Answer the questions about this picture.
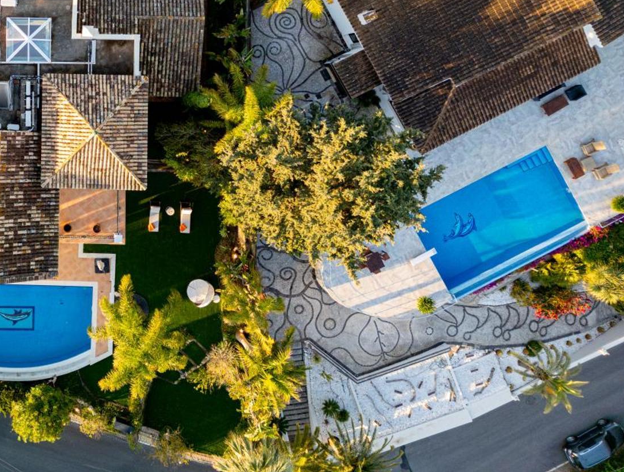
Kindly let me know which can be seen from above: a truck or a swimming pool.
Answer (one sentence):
There is a swimming pool in the scene.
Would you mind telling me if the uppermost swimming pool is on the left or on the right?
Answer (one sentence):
It is on the right.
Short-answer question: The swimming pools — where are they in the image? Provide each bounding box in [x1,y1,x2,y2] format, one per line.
[414,146,589,311]
[0,278,111,389]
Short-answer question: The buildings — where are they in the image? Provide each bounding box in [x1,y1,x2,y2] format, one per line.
[0,0,208,287]
[324,0,624,152]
